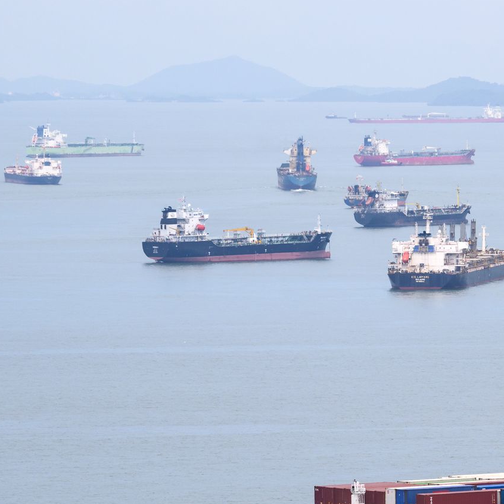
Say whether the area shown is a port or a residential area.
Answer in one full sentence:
This image shows a port.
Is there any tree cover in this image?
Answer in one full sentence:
No, there is no tree cover in the image.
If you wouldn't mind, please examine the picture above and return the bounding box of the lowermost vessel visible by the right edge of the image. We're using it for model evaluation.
[392,216,504,288]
